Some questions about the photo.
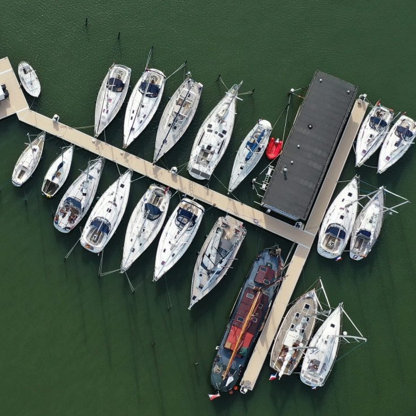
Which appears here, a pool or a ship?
ship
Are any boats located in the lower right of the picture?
Yes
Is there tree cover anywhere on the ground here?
No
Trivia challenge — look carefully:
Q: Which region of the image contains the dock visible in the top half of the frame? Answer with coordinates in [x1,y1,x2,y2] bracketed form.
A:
[303,99,369,233]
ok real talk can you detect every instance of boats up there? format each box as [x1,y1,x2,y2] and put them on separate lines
[71,59,130,142]
[376,107,416,175]
[43,144,77,199]
[153,195,214,307]
[353,97,402,168]
[153,71,205,165]
[266,136,285,160]
[122,49,186,149]
[347,186,410,264]
[315,177,383,265]
[54,155,104,234]
[186,210,247,314]
[19,61,40,99]
[13,130,55,187]
[103,183,170,291]
[227,110,285,194]
[296,304,368,393]
[182,75,254,187]
[69,171,142,270]
[271,278,333,383]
